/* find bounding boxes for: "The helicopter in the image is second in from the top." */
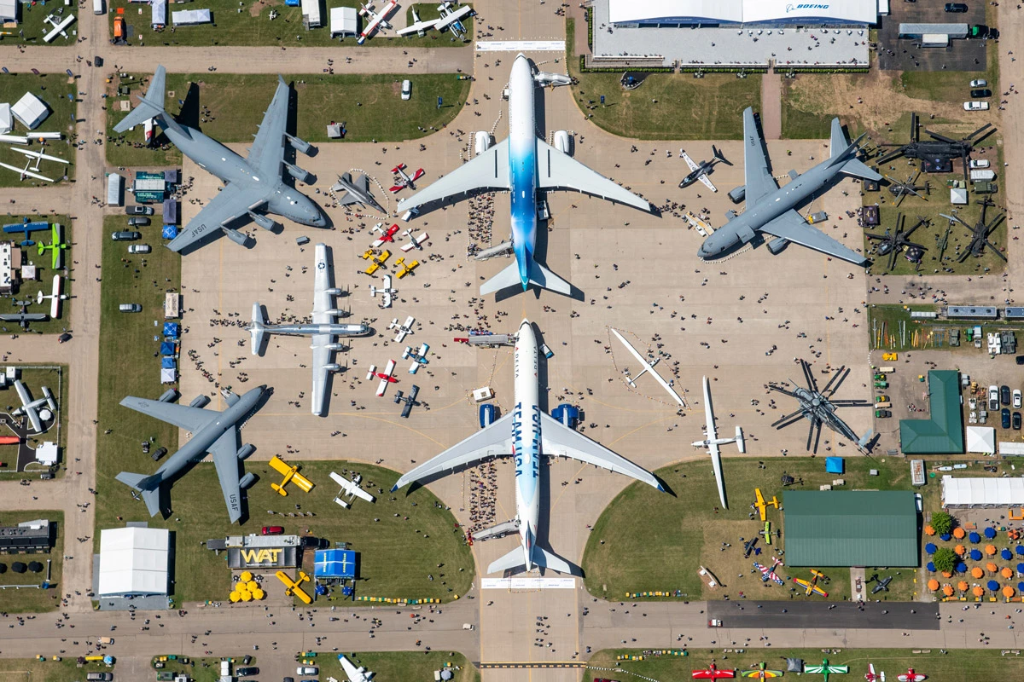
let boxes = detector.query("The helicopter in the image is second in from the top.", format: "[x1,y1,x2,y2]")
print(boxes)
[885,168,937,204]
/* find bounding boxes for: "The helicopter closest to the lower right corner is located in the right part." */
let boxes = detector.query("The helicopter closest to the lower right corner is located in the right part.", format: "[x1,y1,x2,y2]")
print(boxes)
[767,357,867,454]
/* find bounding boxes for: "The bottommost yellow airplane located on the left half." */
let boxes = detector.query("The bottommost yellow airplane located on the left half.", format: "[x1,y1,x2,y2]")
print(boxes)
[277,572,309,602]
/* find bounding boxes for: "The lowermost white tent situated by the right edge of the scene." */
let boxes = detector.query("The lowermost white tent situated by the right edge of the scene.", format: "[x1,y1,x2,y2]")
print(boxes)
[941,479,1024,507]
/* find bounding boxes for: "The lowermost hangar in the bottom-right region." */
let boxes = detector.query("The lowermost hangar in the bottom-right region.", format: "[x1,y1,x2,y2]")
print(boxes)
[782,490,917,569]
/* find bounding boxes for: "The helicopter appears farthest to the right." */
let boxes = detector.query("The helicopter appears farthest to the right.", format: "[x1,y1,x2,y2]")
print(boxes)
[952,193,1007,262]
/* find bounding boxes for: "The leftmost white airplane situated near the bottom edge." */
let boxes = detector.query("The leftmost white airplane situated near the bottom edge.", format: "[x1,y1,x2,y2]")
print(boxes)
[334,652,373,682]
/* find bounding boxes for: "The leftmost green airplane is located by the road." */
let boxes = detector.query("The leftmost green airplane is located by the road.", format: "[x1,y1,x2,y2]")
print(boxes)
[37,222,68,267]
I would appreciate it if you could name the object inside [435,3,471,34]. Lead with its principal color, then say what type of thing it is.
white airplane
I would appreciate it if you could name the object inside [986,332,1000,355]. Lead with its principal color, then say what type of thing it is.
white vehicle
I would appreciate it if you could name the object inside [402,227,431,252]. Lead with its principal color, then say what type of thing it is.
white airplane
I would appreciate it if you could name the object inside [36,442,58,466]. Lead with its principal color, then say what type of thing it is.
white tent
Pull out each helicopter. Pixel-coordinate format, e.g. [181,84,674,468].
[952,193,1007,262]
[865,212,932,268]
[875,112,992,179]
[885,168,937,204]
[767,357,867,454]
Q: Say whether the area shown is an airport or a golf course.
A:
airport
